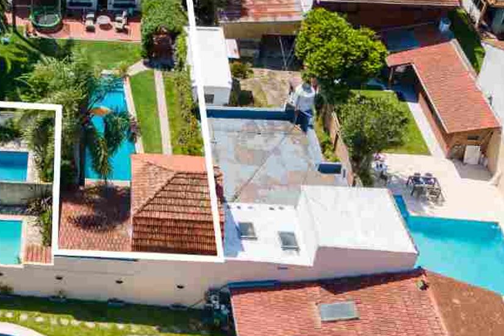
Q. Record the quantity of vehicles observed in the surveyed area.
0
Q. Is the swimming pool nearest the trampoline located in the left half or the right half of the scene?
left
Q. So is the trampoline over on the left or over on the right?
left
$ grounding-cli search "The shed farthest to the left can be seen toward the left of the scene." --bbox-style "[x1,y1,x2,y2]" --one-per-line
[24,243,52,263]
